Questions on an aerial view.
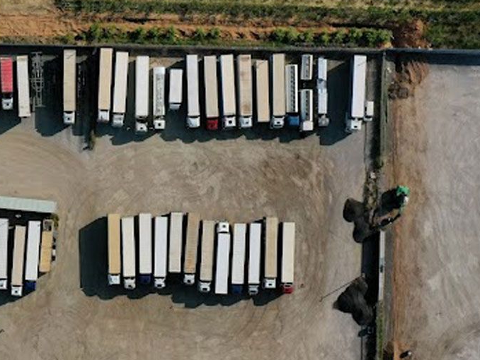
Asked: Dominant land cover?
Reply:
paved ground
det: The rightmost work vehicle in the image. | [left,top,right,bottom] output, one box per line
[378,181,413,215]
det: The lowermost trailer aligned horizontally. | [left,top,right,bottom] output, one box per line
[0,197,55,213]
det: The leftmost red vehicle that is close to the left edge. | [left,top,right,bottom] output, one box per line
[1,56,14,112]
